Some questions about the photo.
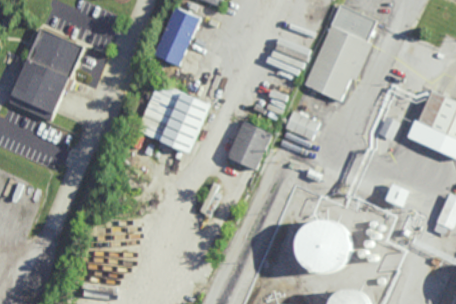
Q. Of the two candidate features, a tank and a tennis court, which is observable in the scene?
tank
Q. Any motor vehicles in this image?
Yes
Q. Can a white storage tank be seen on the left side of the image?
No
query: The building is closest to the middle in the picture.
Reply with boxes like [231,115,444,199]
[228,121,274,170]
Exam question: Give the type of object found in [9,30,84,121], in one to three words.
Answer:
building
